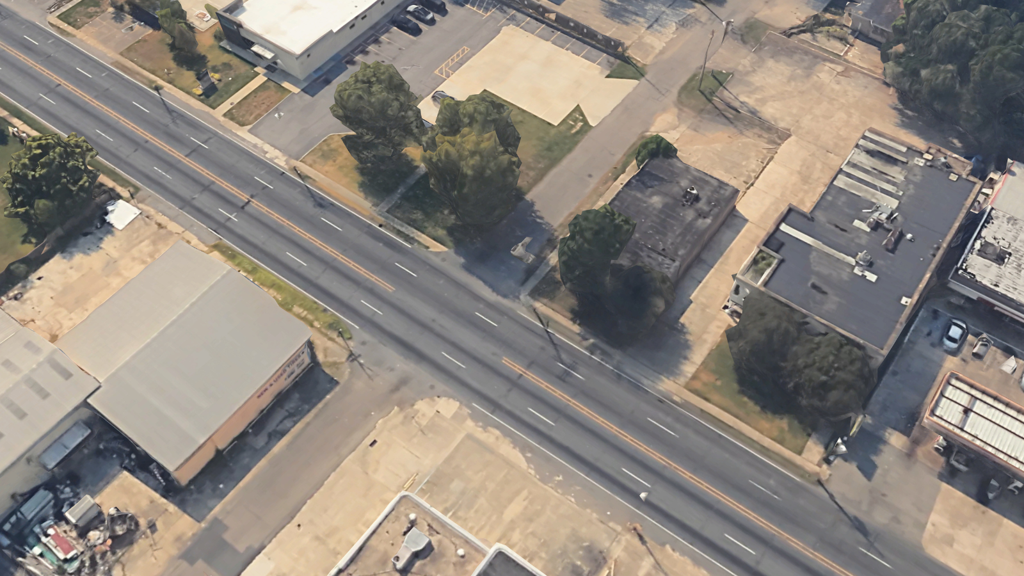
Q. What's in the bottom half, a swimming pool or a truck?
truck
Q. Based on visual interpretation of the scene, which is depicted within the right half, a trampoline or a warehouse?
warehouse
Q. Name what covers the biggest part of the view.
paved ground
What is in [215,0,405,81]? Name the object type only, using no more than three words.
building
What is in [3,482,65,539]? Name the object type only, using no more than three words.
truck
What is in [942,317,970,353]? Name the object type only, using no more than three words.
car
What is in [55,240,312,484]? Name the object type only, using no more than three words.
building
